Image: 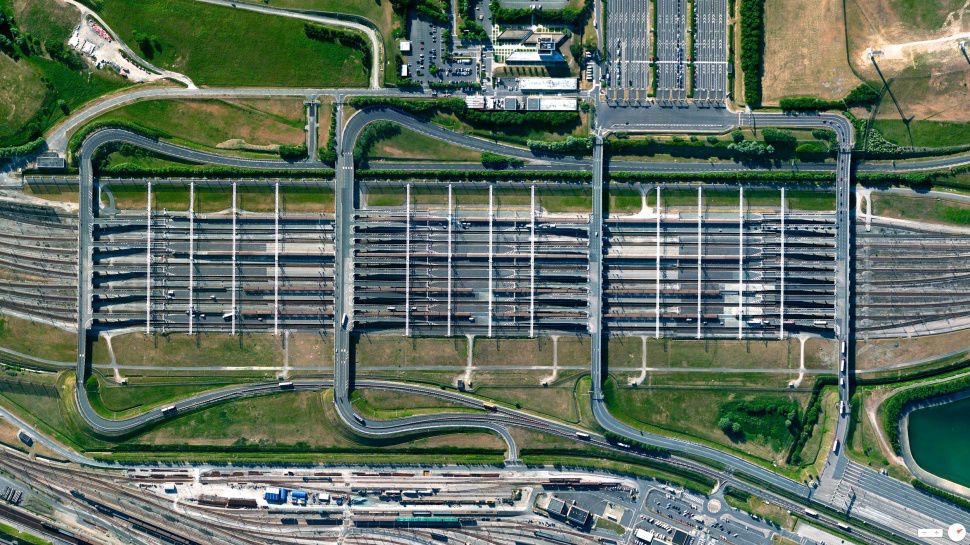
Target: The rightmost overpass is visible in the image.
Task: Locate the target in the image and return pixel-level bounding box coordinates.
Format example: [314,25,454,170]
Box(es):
[835,150,853,414]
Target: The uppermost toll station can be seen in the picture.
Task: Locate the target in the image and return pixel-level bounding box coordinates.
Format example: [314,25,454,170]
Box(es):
[604,0,728,98]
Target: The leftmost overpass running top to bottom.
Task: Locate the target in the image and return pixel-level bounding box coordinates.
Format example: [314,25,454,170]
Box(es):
[77,162,94,384]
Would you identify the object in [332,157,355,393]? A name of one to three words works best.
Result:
overpass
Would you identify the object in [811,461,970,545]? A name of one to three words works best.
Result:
toll station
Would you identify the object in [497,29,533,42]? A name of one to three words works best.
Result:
building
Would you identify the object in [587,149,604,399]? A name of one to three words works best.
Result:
overpass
